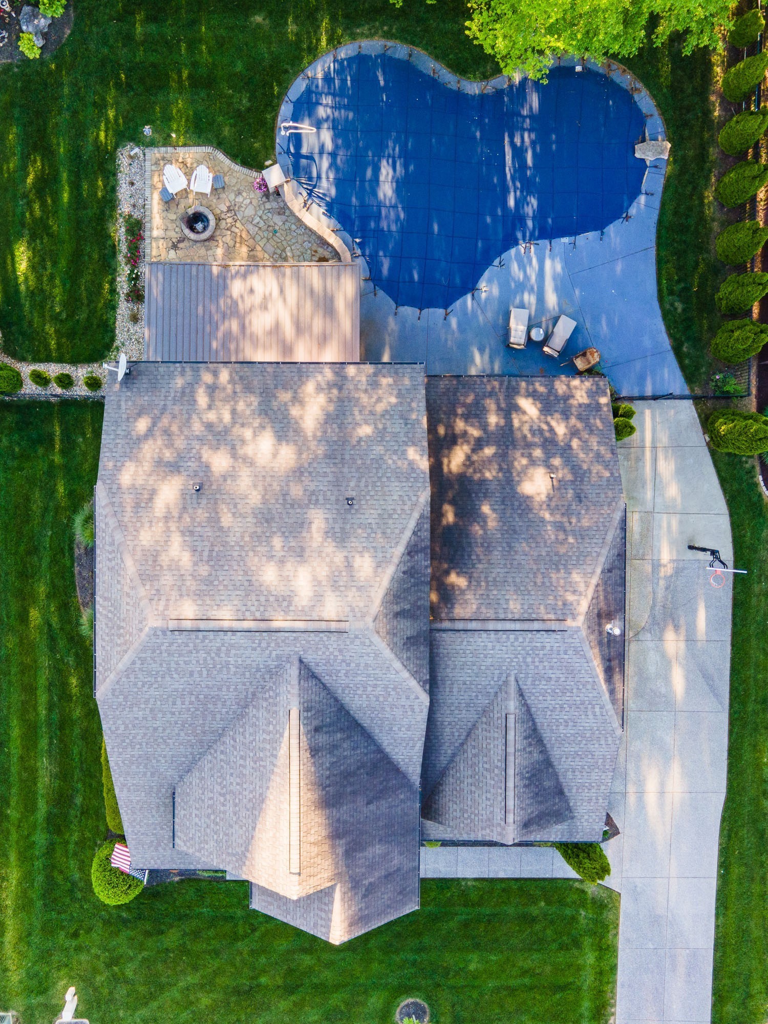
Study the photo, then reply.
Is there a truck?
No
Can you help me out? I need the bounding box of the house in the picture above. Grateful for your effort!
[93,361,629,944]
